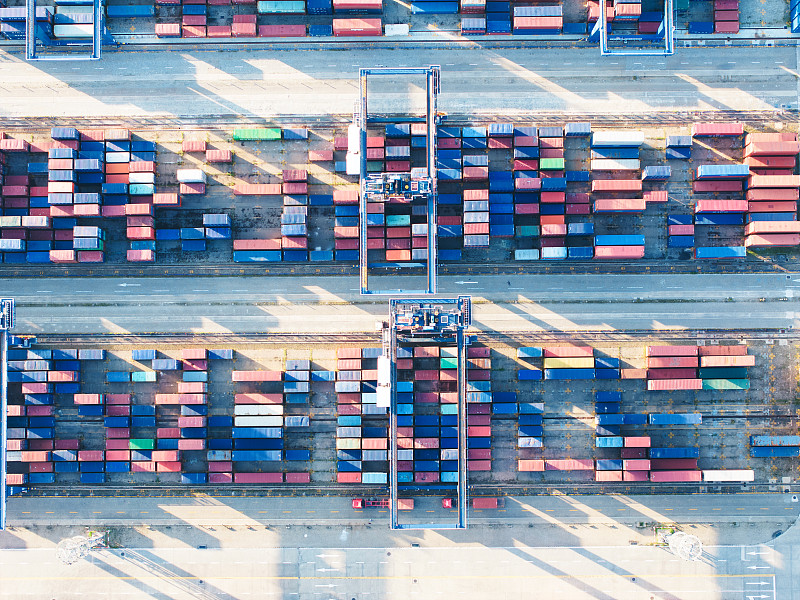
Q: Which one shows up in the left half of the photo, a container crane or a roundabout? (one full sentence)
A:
Looking in the left half of the photo, you will find a container crane.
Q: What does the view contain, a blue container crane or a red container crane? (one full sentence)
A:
I can see a blue container crane in this picture.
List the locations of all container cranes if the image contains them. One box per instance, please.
[377,296,479,529]
[578,0,679,56]
[23,0,128,60]
[0,299,47,531]
[347,65,451,294]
